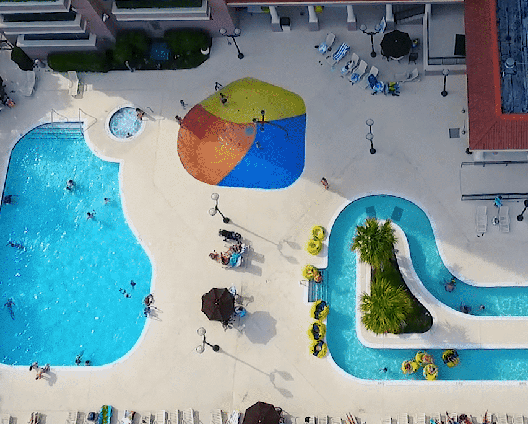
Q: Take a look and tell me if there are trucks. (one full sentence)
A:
No, no truck is visible in the view.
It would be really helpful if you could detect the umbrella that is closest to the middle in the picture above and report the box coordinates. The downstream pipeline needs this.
[204,286,239,322]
